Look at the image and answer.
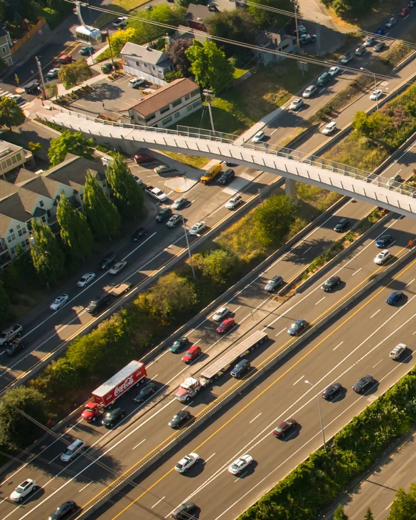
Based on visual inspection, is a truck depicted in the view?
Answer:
Yes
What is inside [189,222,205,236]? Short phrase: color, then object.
gray vehicle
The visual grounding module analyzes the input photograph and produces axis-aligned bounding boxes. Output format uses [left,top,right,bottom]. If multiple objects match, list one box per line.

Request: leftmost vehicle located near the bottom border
[10,478,37,503]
